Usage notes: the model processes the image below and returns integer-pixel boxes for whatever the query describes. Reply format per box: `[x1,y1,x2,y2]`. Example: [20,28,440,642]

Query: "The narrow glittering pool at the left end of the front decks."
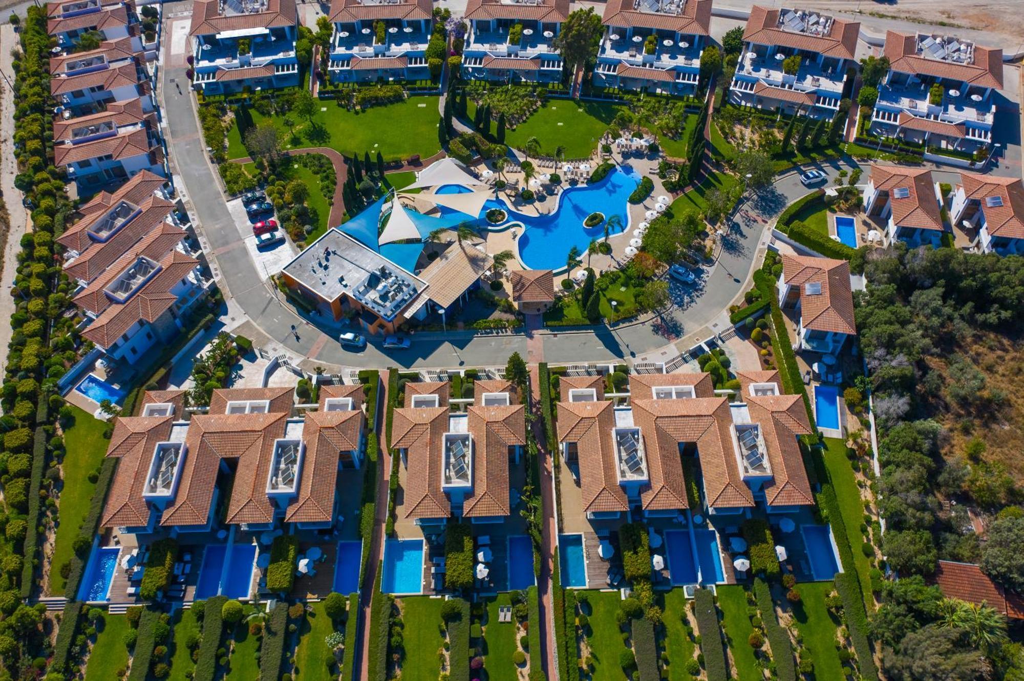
[77,545,124,605]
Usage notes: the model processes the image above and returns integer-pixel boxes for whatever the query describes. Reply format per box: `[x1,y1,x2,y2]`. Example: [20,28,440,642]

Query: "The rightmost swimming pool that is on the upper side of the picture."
[834,214,859,250]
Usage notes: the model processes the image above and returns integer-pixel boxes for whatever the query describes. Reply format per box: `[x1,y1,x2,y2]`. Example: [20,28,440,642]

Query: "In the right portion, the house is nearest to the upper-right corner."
[866,29,1007,176]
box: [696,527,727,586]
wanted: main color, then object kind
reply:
blue swimming pool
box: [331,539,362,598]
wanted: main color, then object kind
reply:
blue swimming pool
